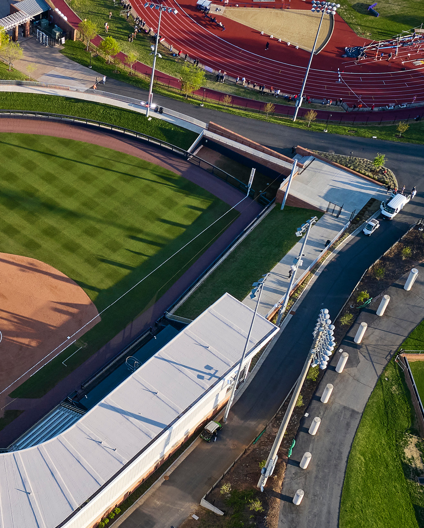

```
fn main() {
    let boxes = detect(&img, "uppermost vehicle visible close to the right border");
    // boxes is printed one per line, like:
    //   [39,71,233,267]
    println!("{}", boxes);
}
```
[385,183,418,216]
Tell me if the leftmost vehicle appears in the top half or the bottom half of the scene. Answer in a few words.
bottom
